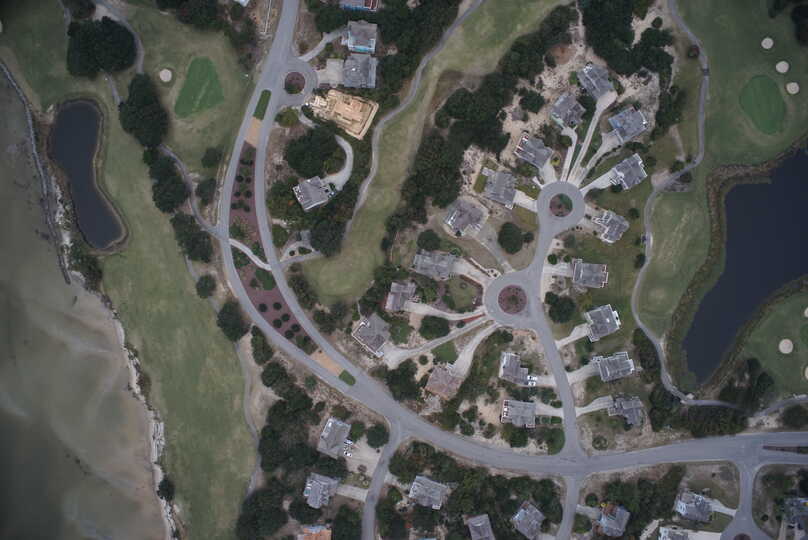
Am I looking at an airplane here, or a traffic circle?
traffic circle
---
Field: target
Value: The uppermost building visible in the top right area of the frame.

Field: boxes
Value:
[577,62,612,99]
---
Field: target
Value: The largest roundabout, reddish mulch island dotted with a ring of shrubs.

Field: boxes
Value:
[485,272,540,328]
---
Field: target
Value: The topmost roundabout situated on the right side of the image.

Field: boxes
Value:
[537,182,585,230]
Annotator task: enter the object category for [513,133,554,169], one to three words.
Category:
house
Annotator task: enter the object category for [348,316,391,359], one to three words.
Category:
house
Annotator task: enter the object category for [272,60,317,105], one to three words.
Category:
roundabout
